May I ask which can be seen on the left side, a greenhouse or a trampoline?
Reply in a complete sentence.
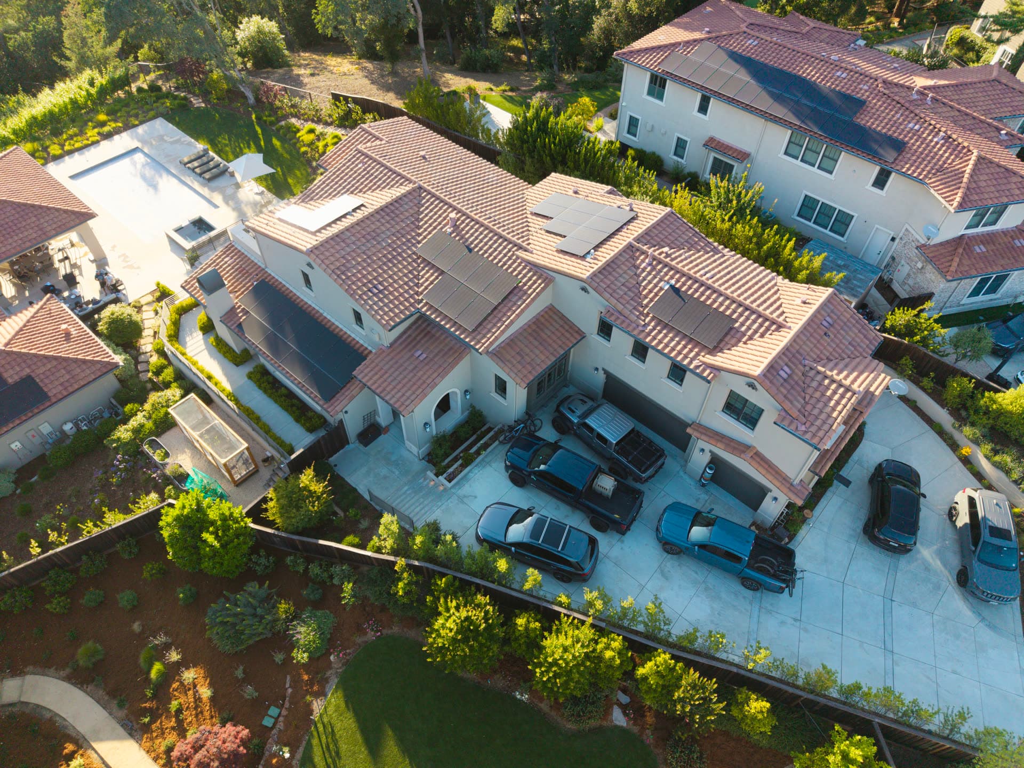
Visible on the left side is a greenhouse.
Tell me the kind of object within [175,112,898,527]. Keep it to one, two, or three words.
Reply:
house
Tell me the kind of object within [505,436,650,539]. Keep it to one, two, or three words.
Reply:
truck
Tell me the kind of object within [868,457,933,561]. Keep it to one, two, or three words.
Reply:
car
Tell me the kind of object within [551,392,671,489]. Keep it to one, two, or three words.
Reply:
truck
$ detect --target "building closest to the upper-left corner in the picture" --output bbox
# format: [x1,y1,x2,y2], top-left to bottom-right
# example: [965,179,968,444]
[0,144,108,268]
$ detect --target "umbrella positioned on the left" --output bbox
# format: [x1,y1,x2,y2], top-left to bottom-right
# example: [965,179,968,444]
[215,148,287,199]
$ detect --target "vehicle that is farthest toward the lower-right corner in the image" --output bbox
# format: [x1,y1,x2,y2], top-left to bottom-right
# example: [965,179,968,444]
[952,491,1024,616]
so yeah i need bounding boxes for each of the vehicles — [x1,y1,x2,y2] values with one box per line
[986,307,1024,357]
[952,491,1024,616]
[470,505,603,584]
[868,457,933,561]
[505,436,650,539]
[551,392,671,489]
[652,502,800,597]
